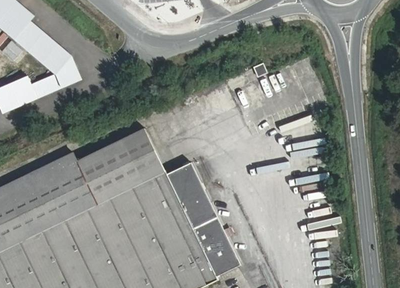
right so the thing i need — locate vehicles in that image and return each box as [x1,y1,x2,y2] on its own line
[310,241,330,249]
[237,90,250,108]
[307,207,333,218]
[214,201,228,208]
[277,72,286,88]
[250,162,290,176]
[289,172,330,186]
[292,170,302,176]
[300,216,343,233]
[313,260,332,267]
[309,230,339,240]
[258,121,270,129]
[310,202,322,208]
[285,138,328,152]
[315,278,334,286]
[312,250,330,258]
[314,268,332,276]
[235,244,247,249]
[294,183,320,194]
[218,210,230,216]
[303,192,327,202]
[260,78,273,98]
[278,135,294,145]
[308,166,319,172]
[226,278,238,286]
[270,74,282,92]
[350,124,356,137]
[267,128,278,136]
